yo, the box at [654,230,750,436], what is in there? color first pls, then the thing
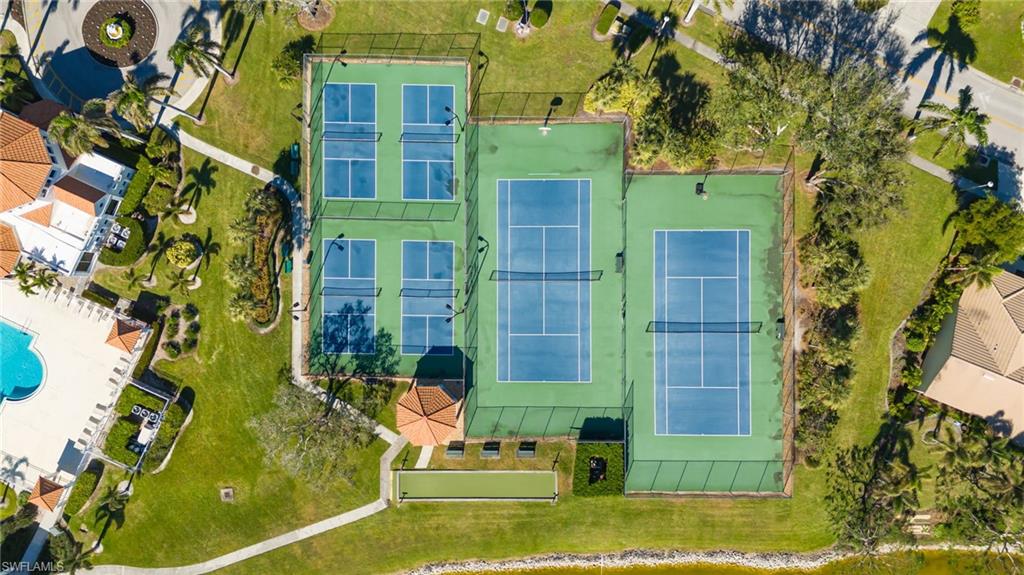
blue tennis court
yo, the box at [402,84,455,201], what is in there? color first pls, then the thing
blue sports court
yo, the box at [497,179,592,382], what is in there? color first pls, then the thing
blue tennis court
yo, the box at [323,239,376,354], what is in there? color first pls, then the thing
blue sports court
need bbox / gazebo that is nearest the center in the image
[397,386,456,445]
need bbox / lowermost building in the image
[28,471,79,512]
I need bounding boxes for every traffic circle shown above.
[82,0,159,67]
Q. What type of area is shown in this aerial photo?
sports ground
